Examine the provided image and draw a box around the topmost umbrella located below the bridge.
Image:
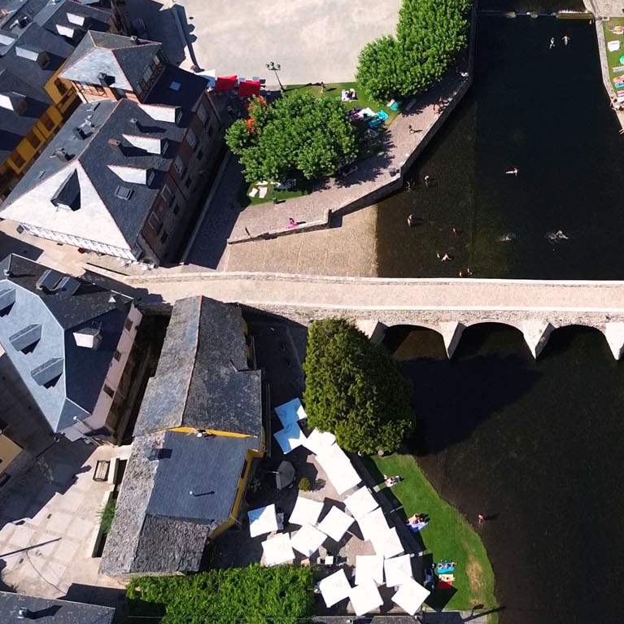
[275,398,306,428]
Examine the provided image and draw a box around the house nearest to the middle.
[132,297,274,454]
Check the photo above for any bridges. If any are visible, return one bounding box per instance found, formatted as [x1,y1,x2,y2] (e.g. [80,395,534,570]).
[117,270,624,363]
